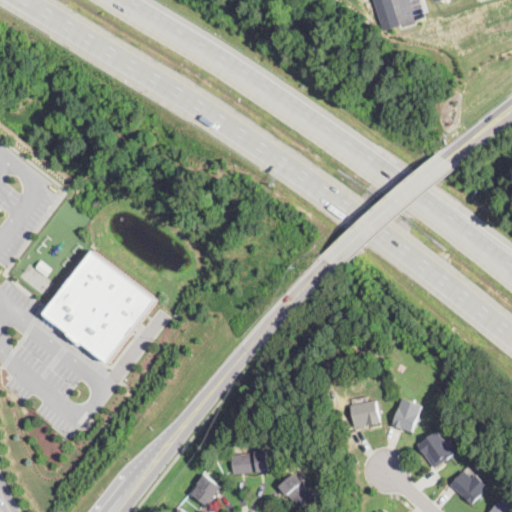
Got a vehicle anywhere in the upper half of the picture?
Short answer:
Yes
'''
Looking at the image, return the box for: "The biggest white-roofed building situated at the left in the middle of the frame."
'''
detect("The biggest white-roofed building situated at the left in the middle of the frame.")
[41,250,160,364]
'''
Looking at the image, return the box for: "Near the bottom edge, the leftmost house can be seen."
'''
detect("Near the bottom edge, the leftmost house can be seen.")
[190,476,220,512]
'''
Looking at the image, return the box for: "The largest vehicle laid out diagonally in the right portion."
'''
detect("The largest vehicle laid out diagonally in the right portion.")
[322,199,350,221]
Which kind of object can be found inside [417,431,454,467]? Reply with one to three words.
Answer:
house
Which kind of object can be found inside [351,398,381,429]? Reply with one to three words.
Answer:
house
